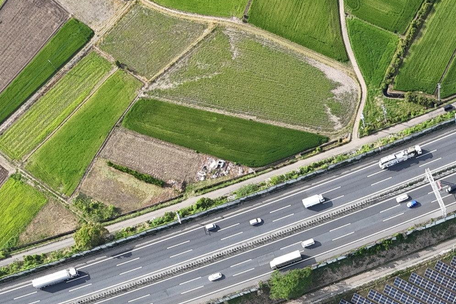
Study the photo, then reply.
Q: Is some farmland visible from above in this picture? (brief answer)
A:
Yes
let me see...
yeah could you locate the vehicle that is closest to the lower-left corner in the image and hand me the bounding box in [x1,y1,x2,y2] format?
[29,266,79,288]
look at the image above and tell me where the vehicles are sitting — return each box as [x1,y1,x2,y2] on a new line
[270,250,303,270]
[408,201,417,208]
[207,224,216,231]
[378,146,423,169]
[302,240,315,248]
[442,104,454,114]
[209,273,222,281]
[249,218,262,226]
[301,195,326,209]
[29,266,79,288]
[396,195,409,203]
